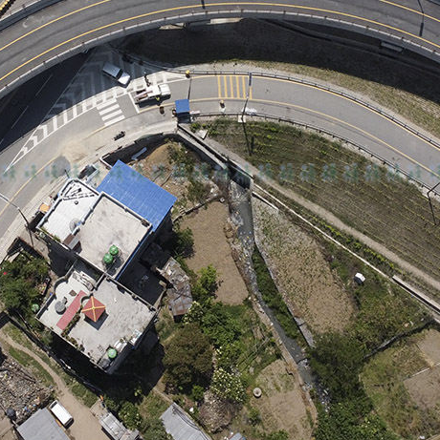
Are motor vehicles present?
Yes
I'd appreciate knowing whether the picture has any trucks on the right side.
No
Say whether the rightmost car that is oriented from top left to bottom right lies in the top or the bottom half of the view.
top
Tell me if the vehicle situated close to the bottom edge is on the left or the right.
left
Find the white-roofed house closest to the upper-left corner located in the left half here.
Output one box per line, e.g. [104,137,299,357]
[36,179,99,255]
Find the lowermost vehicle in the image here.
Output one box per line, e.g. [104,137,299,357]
[48,397,76,430]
